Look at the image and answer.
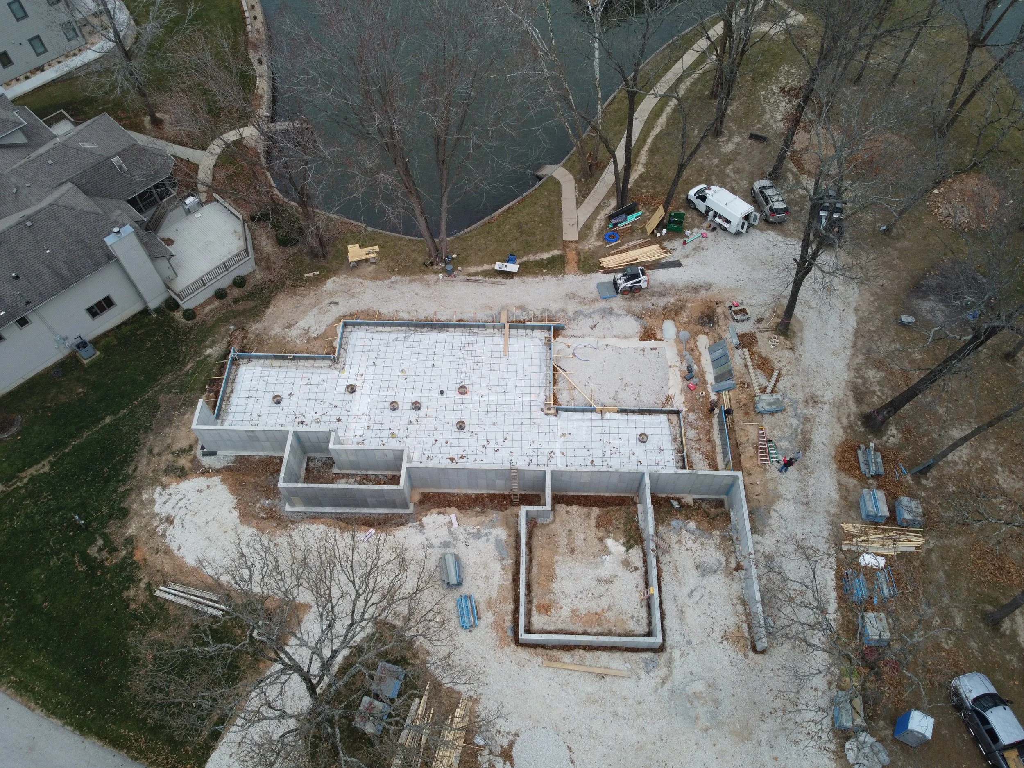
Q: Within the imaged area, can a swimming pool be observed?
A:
No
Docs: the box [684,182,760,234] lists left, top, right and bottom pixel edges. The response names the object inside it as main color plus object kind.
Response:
white van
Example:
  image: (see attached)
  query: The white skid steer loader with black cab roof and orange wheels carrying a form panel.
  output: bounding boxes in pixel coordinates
[611,260,651,294]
